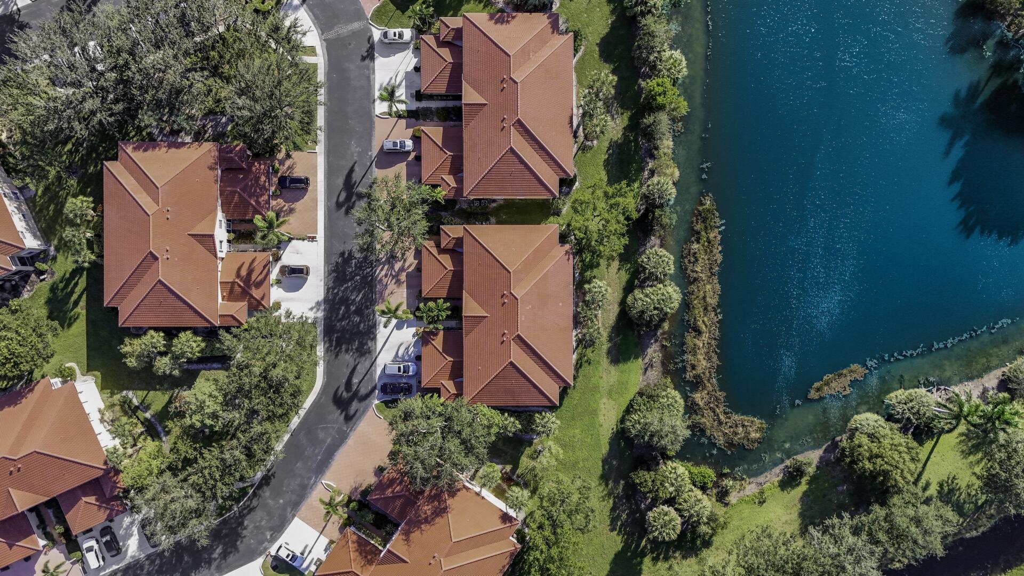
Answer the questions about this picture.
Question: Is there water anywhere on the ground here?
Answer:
Yes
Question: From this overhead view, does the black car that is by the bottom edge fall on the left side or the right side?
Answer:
left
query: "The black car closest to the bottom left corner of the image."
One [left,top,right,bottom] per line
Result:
[101,525,121,556]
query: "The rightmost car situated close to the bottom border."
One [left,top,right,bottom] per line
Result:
[275,543,305,567]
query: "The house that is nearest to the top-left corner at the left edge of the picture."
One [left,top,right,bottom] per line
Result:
[0,133,69,288]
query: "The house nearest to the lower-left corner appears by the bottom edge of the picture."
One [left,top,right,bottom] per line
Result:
[0,375,129,568]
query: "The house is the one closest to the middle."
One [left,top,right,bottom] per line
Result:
[420,222,576,408]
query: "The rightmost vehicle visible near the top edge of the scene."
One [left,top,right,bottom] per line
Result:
[380,28,412,44]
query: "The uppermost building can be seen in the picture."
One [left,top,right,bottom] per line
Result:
[420,13,576,200]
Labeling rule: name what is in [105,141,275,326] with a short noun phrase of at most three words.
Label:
house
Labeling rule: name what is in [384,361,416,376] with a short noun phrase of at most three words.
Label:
car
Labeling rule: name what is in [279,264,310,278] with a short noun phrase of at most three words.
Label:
car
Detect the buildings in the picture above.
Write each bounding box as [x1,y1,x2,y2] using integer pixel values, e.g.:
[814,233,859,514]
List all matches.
[105,141,275,326]
[420,13,576,200]
[0,375,129,568]
[420,222,576,408]
[315,454,520,576]
[0,133,69,288]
